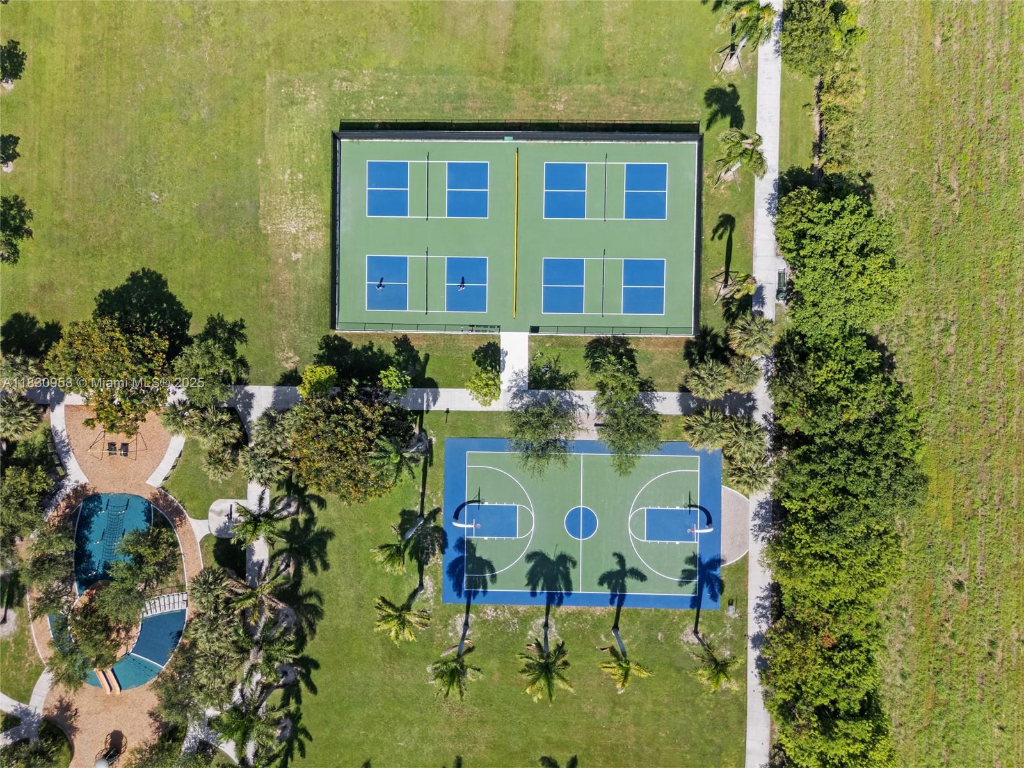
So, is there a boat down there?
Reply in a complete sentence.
No, the frame has no boat in it.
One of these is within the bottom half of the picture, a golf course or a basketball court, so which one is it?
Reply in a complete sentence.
You can see a basketball court within the bottom half of the picture.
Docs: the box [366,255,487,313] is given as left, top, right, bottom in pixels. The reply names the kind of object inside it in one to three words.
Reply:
sports court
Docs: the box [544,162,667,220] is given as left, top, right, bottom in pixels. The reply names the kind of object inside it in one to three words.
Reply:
sports court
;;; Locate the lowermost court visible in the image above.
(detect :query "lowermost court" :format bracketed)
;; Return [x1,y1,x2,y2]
[443,438,722,610]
